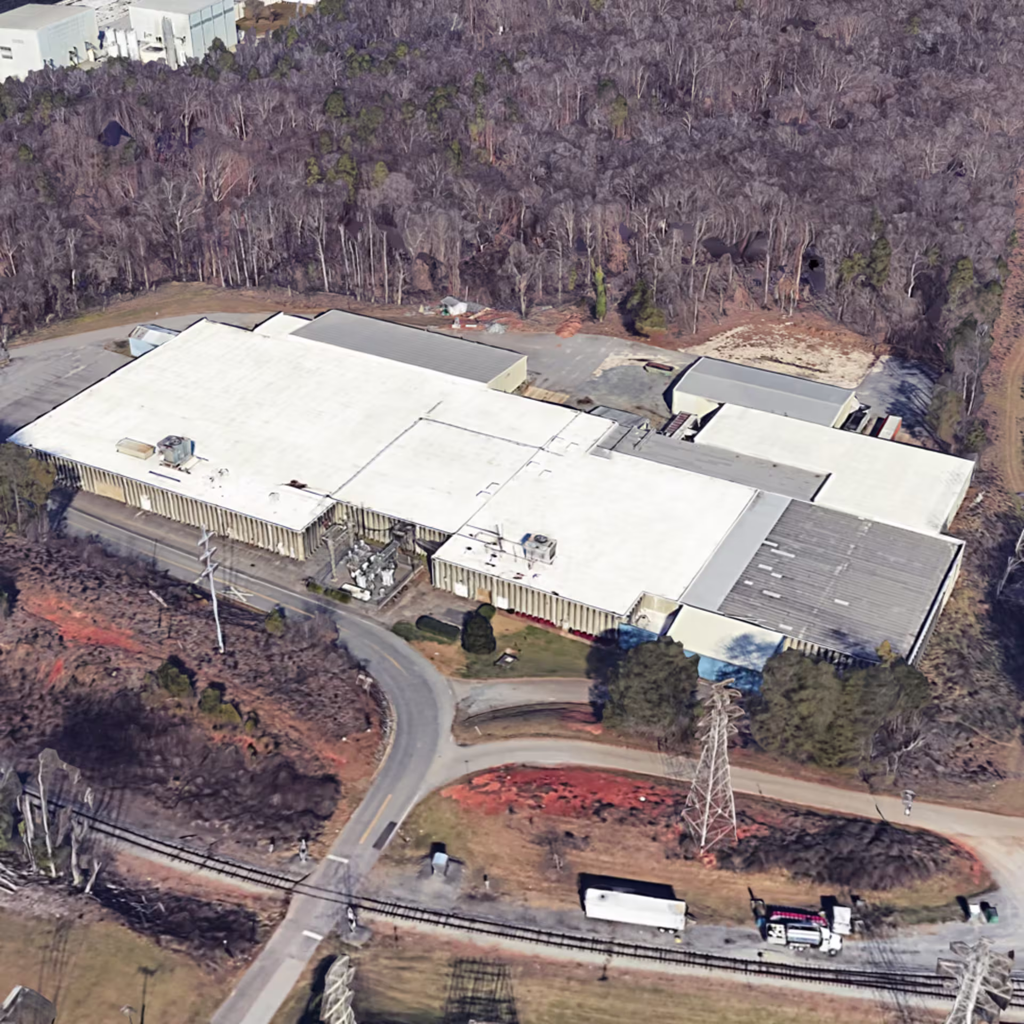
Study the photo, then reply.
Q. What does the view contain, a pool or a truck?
truck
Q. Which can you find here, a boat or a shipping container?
shipping container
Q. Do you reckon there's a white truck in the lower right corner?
Yes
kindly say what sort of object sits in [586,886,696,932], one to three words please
trailer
